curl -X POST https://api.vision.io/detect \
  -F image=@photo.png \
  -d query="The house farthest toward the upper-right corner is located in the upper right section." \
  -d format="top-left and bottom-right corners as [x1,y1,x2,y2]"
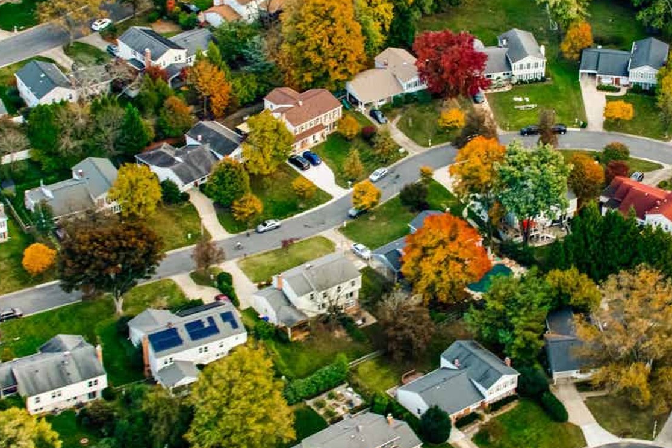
[579,26,663,94]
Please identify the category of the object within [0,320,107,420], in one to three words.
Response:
house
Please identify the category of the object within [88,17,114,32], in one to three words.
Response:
car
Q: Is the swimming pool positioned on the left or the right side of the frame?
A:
right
